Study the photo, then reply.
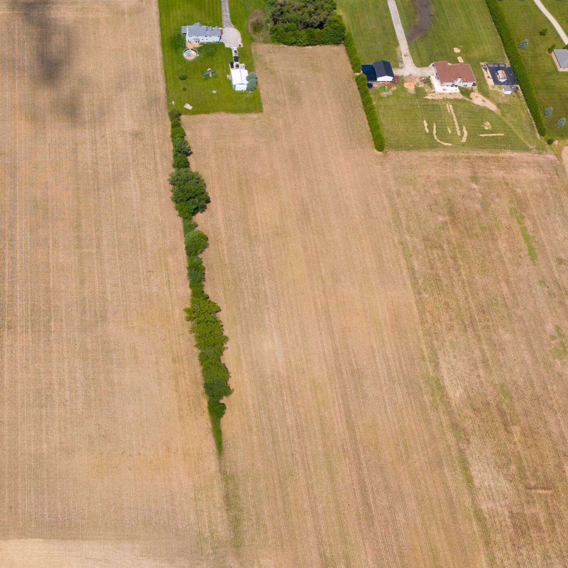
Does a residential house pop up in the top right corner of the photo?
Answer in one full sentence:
Yes, a residential house is visible in the top right corner of the photo.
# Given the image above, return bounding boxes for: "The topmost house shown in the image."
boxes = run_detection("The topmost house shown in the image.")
[182,19,222,47]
